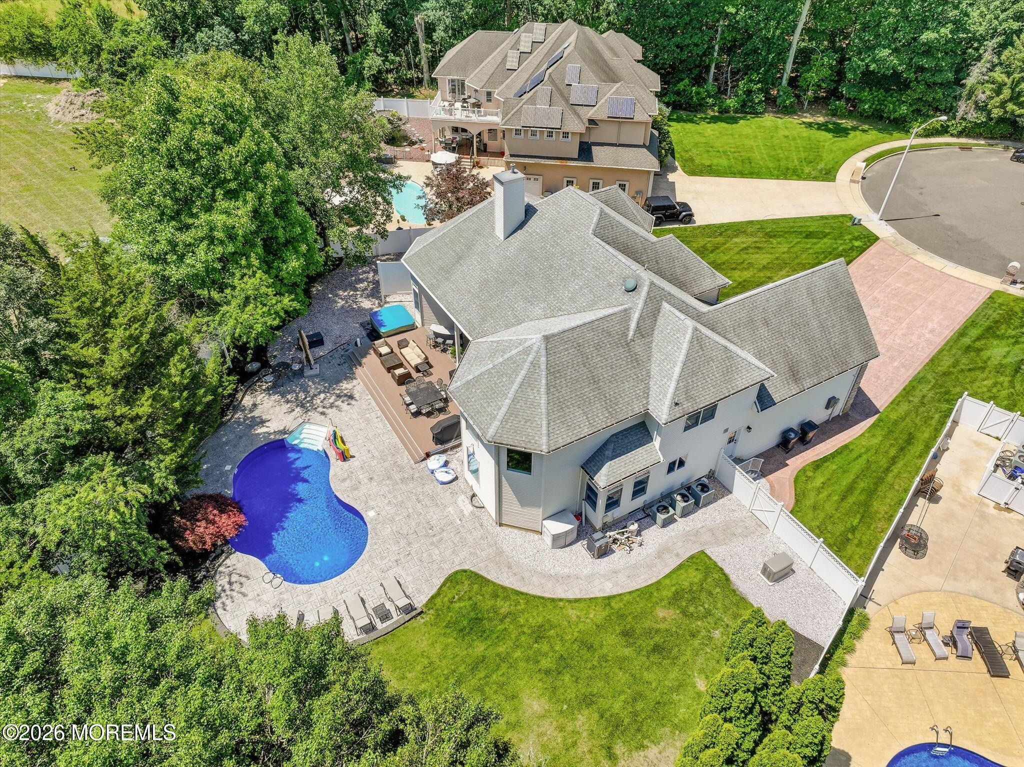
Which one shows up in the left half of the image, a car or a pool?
pool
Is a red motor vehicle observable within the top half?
No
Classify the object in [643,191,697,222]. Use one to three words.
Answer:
car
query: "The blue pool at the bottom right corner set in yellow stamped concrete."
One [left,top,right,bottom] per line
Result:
[885,740,1009,767]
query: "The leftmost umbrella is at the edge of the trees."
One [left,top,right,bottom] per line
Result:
[294,332,318,374]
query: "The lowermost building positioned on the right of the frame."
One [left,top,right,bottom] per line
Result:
[400,162,881,532]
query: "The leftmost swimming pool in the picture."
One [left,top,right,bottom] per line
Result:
[228,421,368,585]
